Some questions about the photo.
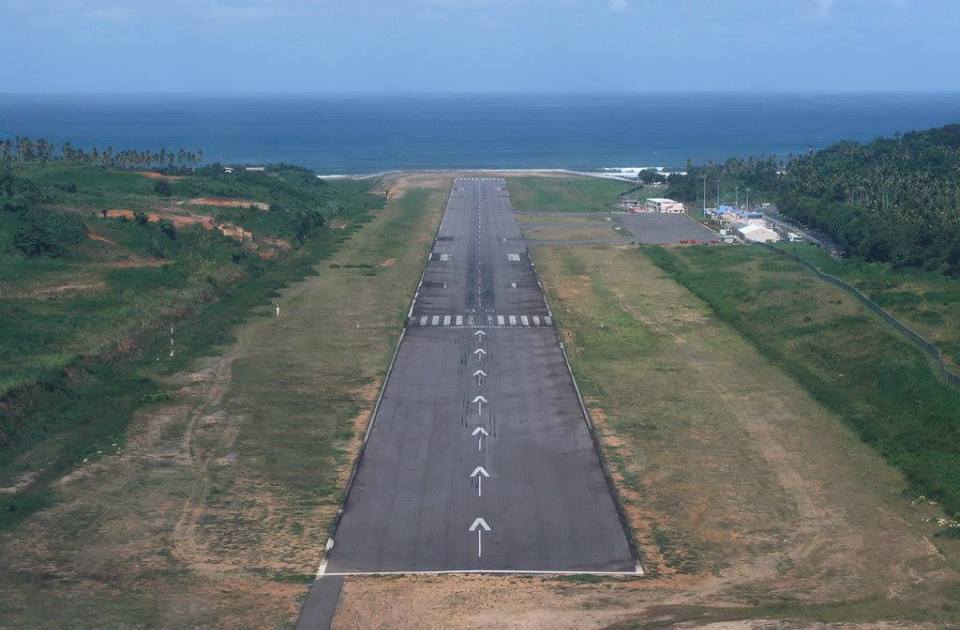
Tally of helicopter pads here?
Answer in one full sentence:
No helicopter pads are visible.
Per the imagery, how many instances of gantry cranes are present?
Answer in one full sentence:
The picture shows no gantry cranes.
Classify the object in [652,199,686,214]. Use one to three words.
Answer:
building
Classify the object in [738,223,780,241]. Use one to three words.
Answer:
hangar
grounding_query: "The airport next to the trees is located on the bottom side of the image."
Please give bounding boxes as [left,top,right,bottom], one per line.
[305,177,722,630]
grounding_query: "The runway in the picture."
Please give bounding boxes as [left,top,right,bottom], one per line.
[316,177,643,574]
